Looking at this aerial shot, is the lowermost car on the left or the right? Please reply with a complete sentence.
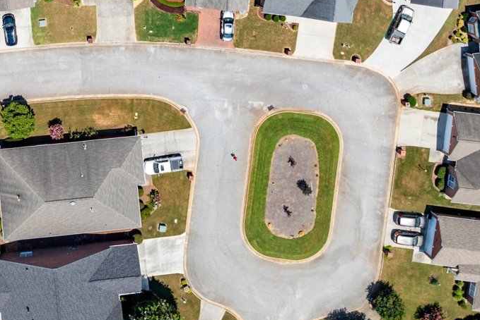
You can find the lowermost car on the right side of the picture.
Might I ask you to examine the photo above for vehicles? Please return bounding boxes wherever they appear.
[220,11,236,43]
[391,211,426,231]
[390,230,425,249]
[385,2,415,45]
[1,14,18,47]
[143,153,185,175]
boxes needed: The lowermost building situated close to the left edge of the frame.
[0,238,141,320]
